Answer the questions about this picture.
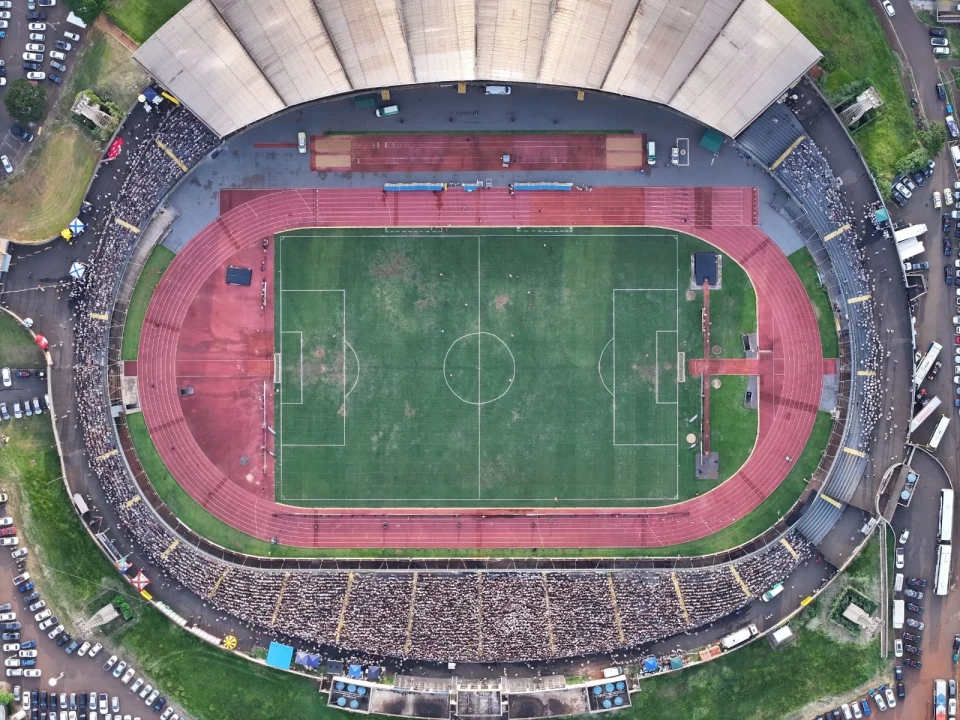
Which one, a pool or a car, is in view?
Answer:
car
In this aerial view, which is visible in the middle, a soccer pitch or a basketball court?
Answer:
soccer pitch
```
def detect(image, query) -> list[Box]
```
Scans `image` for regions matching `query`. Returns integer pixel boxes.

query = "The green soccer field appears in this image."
[274,226,759,509]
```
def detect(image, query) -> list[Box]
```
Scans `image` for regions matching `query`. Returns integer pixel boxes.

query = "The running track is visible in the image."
[122,188,836,548]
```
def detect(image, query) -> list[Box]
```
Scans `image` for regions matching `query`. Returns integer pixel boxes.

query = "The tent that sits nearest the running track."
[699,127,728,153]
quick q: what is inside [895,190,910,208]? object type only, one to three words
car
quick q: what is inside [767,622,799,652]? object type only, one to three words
shed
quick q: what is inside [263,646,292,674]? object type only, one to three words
tent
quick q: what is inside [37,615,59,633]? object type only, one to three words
vehicle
